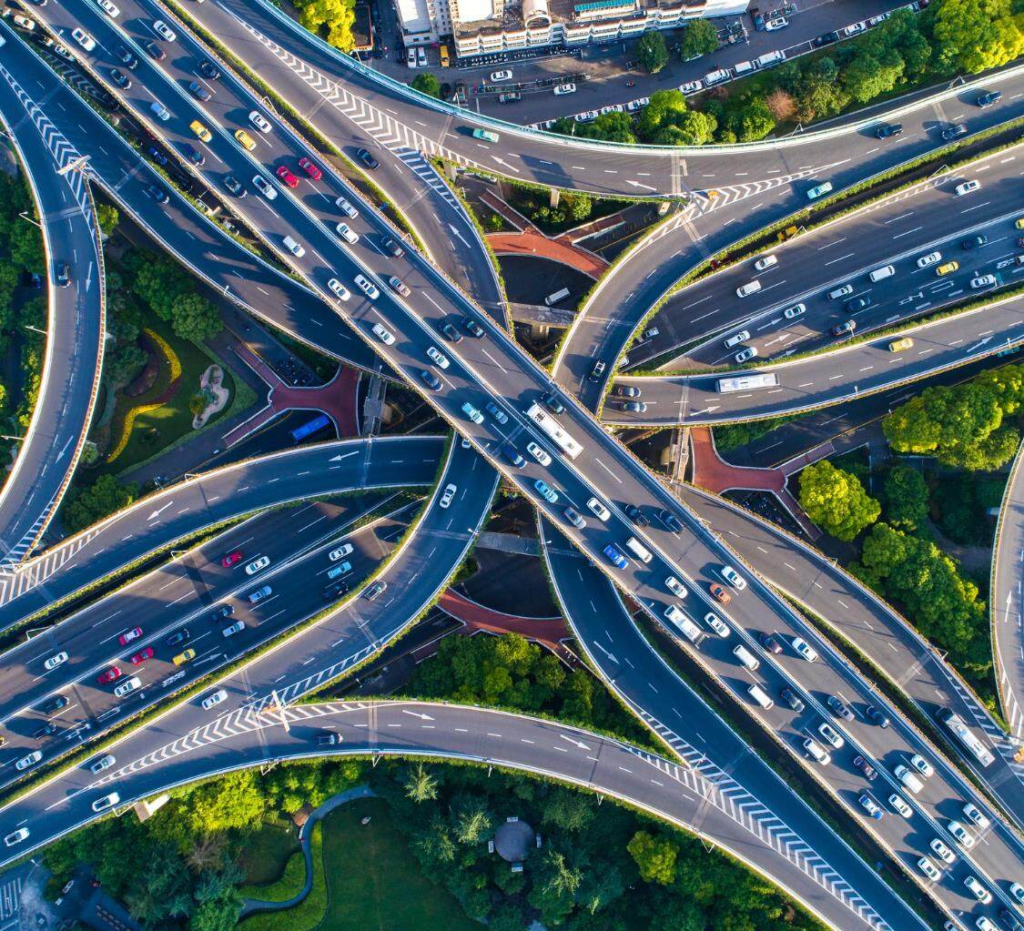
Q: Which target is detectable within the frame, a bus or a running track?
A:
bus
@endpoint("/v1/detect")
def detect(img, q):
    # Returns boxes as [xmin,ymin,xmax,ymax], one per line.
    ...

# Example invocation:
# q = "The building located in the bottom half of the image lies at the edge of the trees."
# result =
[495,823,533,861]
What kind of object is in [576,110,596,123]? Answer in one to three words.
vehicle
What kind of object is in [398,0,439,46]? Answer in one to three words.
building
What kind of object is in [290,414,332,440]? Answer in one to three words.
bus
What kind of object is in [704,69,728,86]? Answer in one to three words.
vehicle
